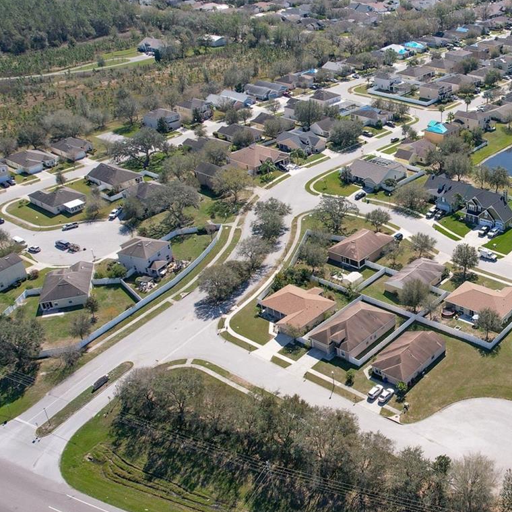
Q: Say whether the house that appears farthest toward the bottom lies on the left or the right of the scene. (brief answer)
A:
right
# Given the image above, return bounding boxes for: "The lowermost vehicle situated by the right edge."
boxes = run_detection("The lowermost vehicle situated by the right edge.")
[479,245,497,258]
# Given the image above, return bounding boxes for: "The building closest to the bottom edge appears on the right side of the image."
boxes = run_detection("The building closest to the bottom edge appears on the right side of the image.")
[370,332,448,389]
